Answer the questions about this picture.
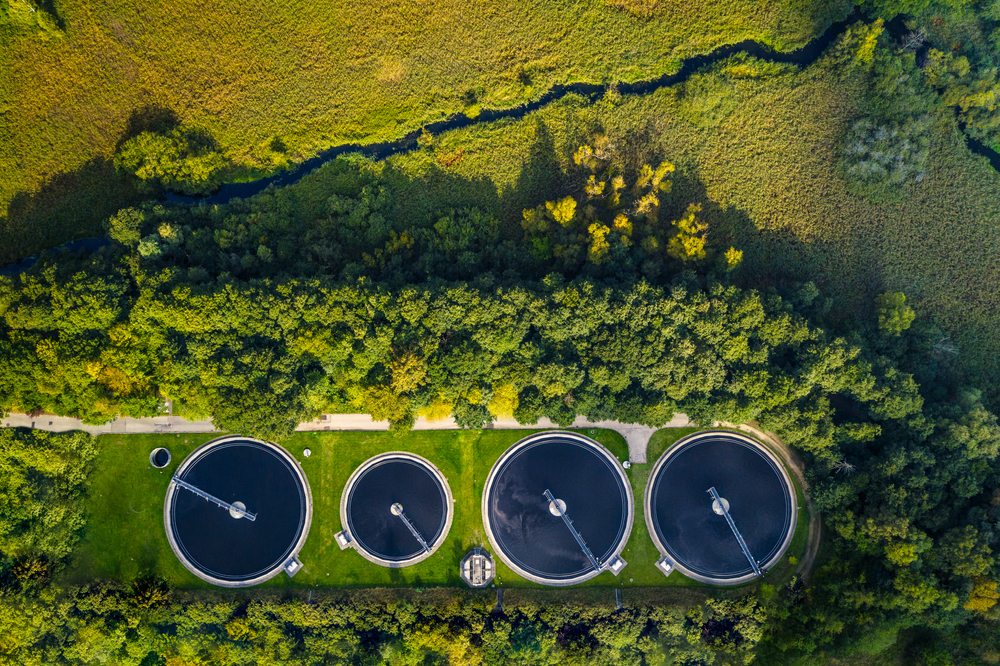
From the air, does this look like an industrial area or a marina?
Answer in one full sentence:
This image shows an industrial area.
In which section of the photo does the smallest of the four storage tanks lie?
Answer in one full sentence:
The smallest of the four storage tanks appears toward the bottom of the photo.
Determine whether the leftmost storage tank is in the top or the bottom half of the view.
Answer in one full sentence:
You can find the leftmost storage tank in the bottom half.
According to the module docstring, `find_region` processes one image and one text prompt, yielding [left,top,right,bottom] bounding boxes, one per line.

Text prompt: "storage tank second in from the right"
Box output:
[481,432,635,586]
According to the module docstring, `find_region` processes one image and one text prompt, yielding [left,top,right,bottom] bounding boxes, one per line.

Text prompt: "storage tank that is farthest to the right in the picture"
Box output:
[645,431,798,586]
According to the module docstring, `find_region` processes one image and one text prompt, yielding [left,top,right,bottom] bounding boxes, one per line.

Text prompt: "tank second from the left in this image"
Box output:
[332,451,455,568]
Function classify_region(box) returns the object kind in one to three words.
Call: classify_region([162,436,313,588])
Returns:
storage tank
